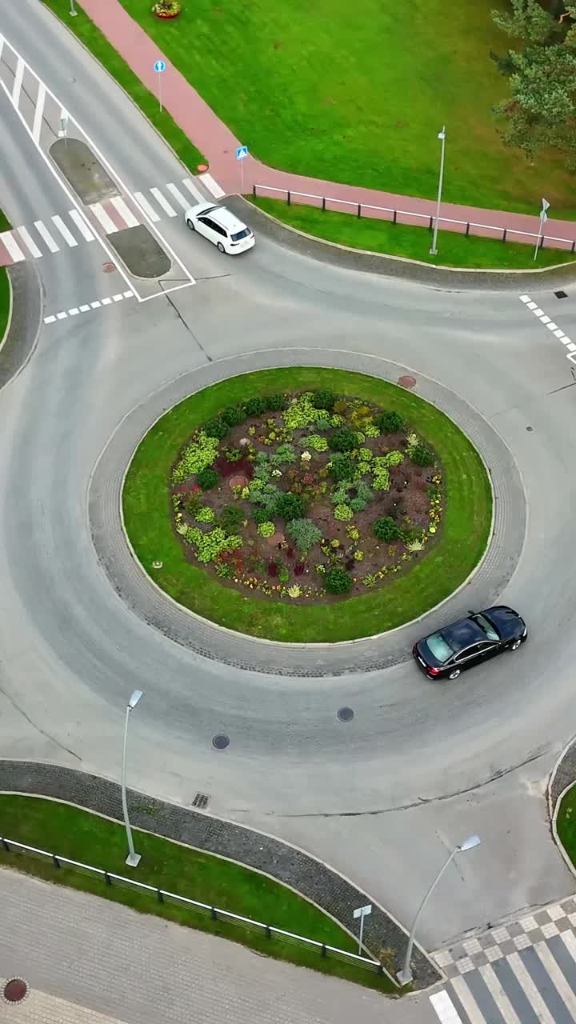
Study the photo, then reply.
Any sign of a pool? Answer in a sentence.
No, I find no pool anywhere in the image.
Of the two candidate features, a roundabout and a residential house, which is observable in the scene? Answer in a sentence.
I can see a roundabout in this picture.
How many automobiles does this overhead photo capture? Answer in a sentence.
My tally gives 2 automobiles in this view.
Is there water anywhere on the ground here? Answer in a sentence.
No, the scene doesn't show any water.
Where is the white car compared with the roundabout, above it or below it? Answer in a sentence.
Within the scene, the white car can be found above the roundabout.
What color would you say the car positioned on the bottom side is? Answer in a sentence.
The car positioned on the bottom side is black.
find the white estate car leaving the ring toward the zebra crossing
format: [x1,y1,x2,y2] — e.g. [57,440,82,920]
[185,203,254,253]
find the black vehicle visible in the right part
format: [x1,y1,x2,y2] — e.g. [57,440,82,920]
[411,605,530,679]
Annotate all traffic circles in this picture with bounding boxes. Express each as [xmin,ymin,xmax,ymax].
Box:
[86,347,527,678]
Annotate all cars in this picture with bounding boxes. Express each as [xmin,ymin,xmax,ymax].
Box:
[411,605,530,679]
[185,203,254,253]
